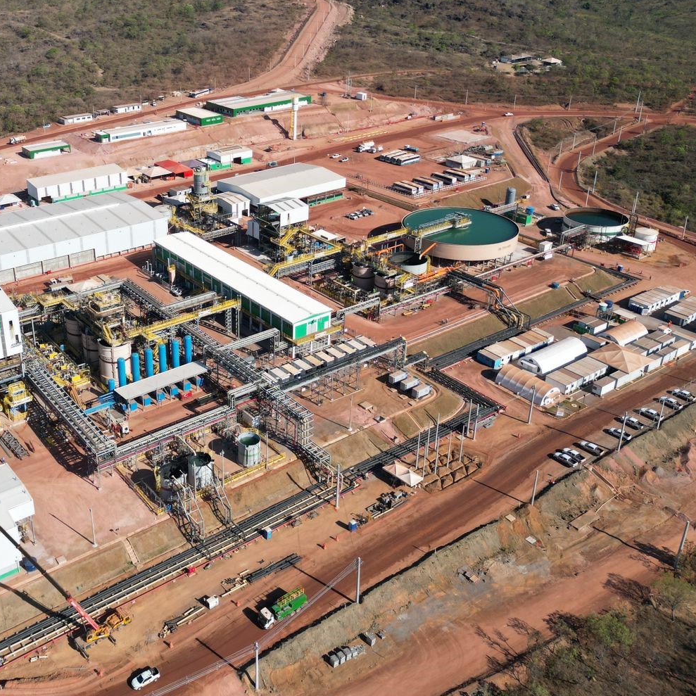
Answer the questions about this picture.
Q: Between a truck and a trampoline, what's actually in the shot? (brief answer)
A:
truck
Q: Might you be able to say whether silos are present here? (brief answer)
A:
Yes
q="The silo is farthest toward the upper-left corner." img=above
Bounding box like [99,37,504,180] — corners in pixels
[181,166,211,216]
